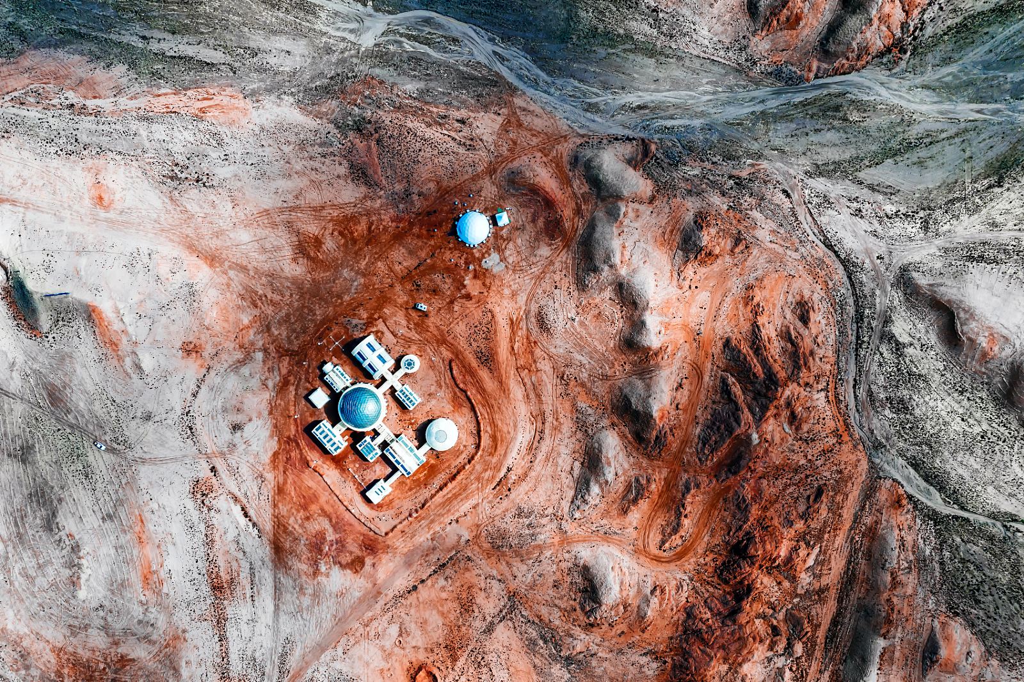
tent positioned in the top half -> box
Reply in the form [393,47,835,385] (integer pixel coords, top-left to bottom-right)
[456,212,490,245]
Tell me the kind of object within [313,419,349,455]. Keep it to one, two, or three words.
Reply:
building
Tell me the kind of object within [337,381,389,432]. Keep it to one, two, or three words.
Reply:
building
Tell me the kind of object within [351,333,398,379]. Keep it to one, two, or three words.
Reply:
hangar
